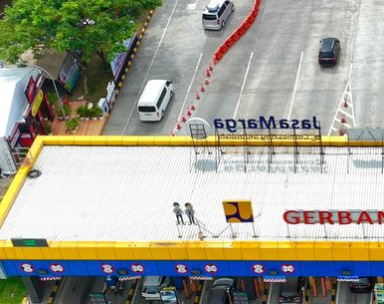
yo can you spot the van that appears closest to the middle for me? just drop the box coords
[138,72,173,117]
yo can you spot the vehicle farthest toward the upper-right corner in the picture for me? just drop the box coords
[319,30,344,63]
